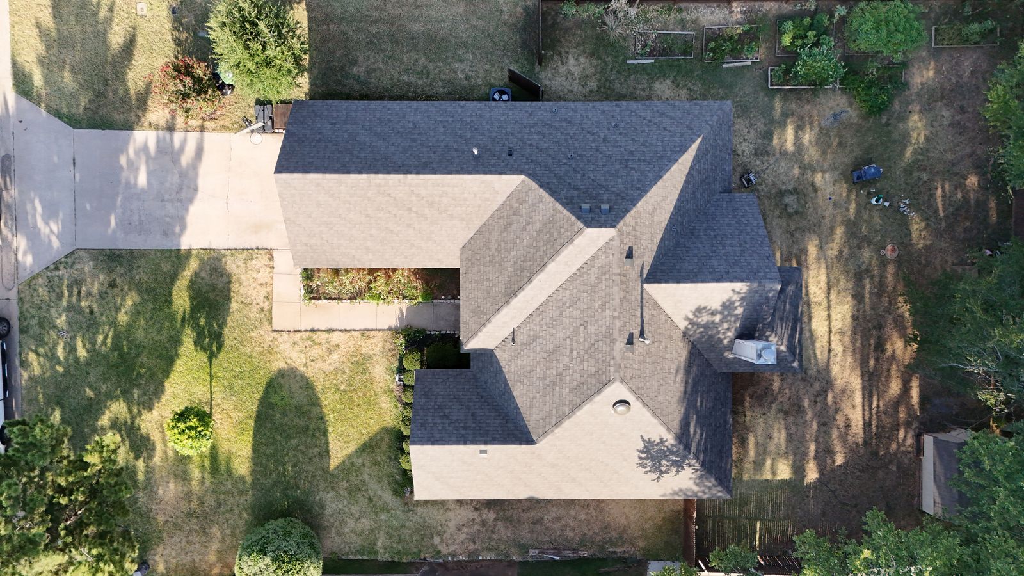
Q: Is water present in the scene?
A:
No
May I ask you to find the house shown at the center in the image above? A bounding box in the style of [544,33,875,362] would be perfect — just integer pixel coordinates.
[274,100,803,501]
